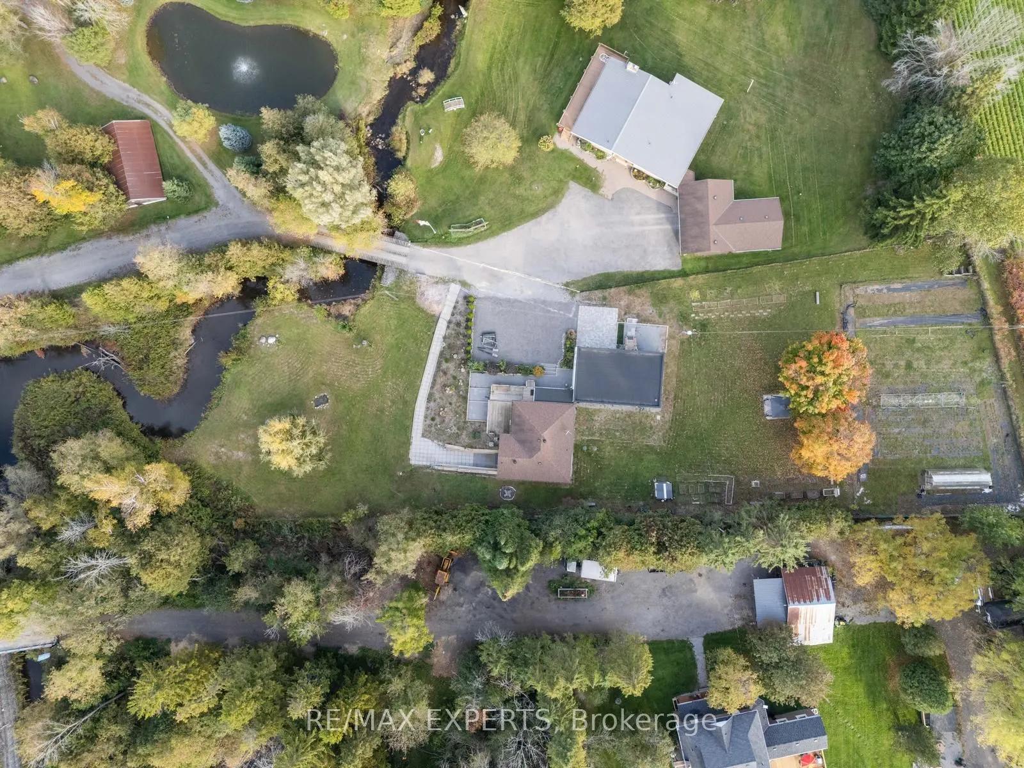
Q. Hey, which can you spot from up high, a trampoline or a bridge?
bridge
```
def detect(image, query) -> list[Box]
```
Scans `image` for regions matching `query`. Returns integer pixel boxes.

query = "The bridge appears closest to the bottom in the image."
[310,232,410,269]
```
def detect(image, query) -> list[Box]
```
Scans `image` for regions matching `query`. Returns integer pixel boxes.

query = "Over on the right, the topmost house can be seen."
[557,40,724,196]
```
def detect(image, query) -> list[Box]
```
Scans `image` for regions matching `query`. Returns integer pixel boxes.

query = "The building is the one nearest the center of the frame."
[486,363,576,483]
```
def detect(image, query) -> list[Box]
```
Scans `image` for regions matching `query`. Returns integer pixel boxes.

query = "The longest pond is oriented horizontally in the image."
[151,6,336,113]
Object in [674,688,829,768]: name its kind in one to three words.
house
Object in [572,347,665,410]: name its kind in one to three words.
building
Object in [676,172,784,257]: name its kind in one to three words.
building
